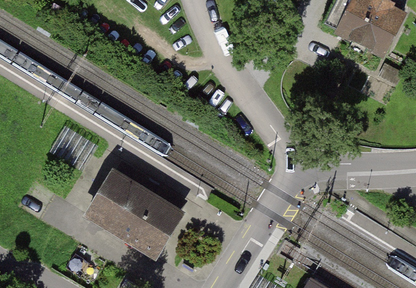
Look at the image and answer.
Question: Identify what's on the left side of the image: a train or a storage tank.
train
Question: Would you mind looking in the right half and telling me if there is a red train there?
No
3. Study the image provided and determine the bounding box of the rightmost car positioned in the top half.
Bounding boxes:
[307,42,331,57]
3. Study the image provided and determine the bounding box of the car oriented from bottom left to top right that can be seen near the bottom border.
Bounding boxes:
[234,250,252,274]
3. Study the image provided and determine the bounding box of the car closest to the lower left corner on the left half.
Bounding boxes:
[21,197,43,213]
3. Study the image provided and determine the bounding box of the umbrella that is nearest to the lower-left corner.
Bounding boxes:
[68,258,83,272]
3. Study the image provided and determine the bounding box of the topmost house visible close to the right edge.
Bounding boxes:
[334,0,406,58]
